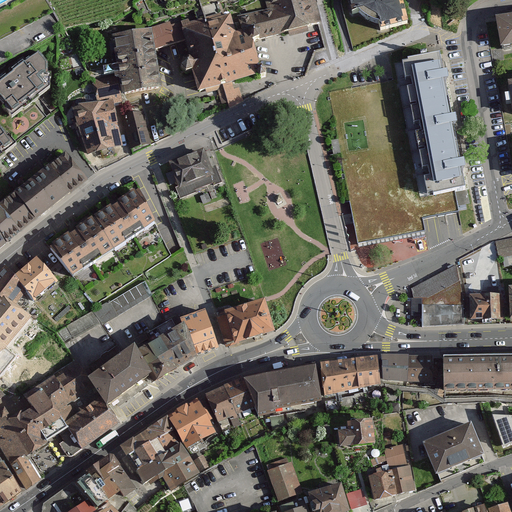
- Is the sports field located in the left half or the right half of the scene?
right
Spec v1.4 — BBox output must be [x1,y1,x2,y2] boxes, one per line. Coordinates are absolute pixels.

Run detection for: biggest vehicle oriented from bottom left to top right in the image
[95,430,119,448]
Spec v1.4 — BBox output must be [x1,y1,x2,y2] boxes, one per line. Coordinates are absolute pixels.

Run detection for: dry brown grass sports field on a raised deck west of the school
[330,67,458,250]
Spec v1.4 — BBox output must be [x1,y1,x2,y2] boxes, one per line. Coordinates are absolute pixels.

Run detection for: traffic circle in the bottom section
[300,278,375,352]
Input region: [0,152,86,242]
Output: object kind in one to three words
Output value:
house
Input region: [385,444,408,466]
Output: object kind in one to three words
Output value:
house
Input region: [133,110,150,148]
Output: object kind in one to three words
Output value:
shed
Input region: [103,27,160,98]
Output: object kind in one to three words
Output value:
building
